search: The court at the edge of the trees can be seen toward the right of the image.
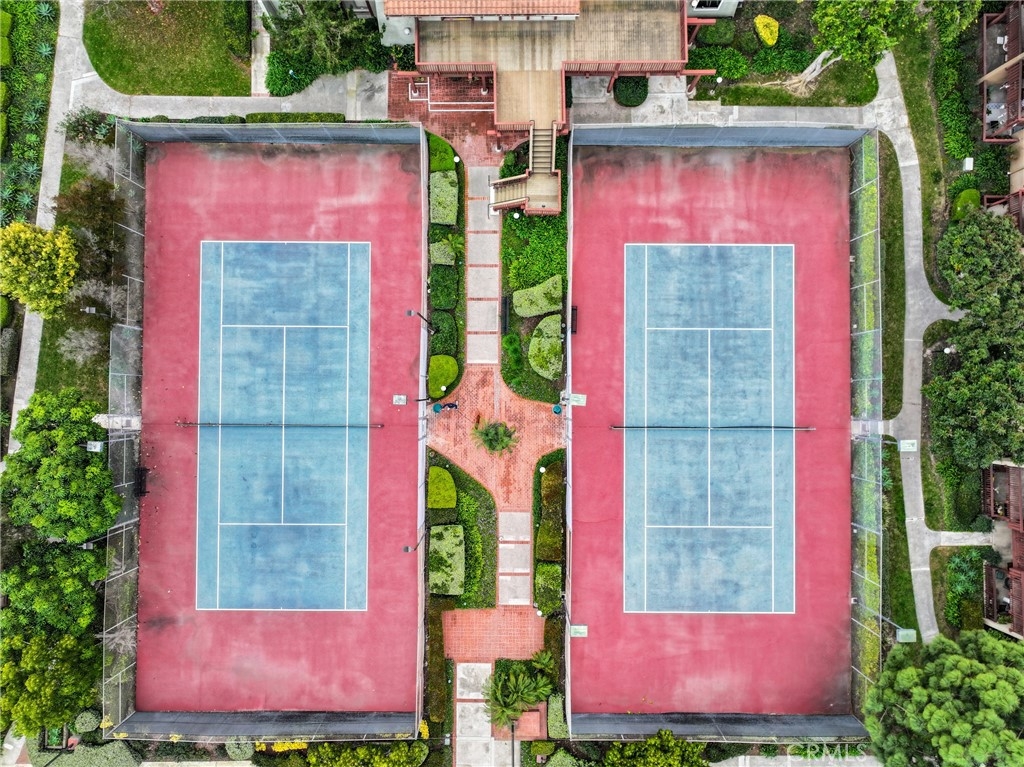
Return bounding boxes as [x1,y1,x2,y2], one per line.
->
[566,146,853,715]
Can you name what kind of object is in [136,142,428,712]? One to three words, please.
tennis court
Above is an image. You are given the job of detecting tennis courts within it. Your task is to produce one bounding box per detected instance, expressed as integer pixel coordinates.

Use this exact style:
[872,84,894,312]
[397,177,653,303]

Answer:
[566,146,853,715]
[136,142,428,712]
